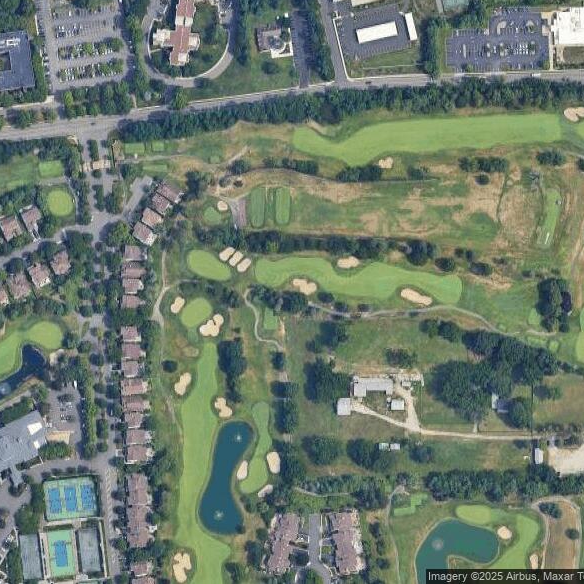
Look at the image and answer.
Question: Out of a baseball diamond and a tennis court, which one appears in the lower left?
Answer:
tennis court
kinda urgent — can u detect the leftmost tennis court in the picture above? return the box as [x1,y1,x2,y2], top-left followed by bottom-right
[20,534,42,580]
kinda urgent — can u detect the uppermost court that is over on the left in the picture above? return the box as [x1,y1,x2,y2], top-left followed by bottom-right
[44,478,98,521]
